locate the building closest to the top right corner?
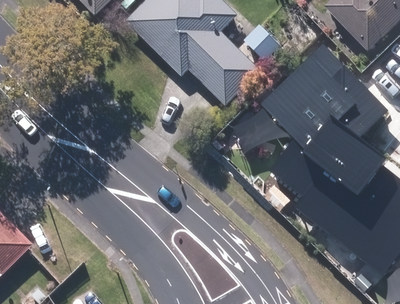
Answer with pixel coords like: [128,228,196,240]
[325,0,400,52]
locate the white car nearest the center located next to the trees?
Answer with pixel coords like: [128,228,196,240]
[160,96,180,126]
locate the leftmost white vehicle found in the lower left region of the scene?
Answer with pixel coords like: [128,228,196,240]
[30,224,50,254]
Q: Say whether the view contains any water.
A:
No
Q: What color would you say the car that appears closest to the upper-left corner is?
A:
white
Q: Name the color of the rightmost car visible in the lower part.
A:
blue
